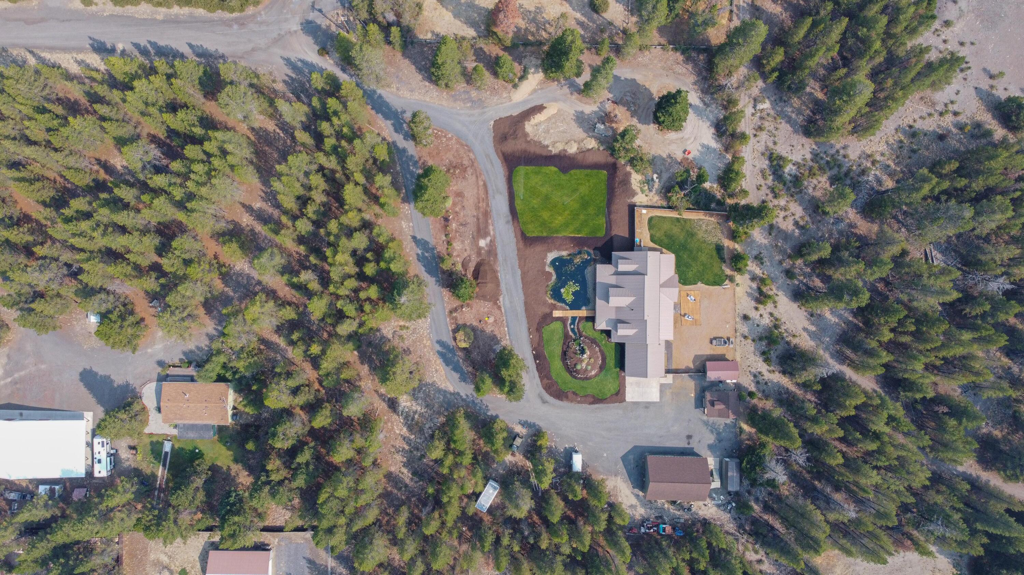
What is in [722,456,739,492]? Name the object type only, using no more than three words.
shed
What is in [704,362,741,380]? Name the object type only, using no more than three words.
shed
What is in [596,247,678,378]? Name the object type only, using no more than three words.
house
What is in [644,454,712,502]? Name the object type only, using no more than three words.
building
